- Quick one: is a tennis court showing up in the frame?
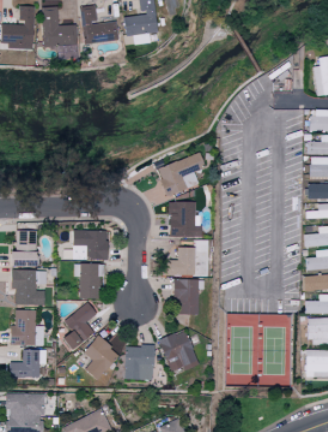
Yes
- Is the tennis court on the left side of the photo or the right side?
right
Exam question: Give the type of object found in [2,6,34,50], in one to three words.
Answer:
house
